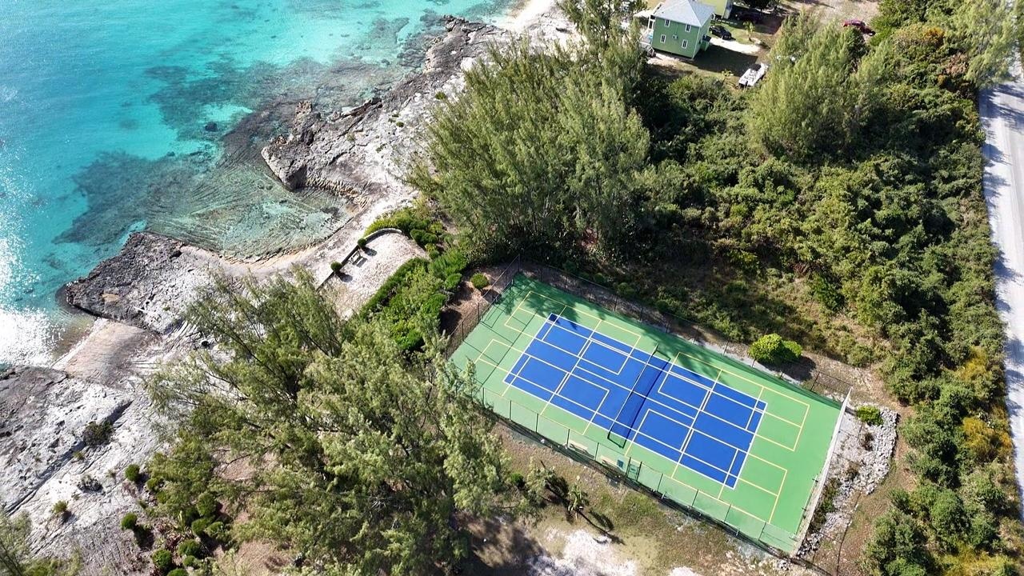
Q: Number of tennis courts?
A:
1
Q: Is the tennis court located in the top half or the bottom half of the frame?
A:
bottom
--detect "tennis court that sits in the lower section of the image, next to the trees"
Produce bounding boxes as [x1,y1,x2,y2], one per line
[430,273,841,559]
